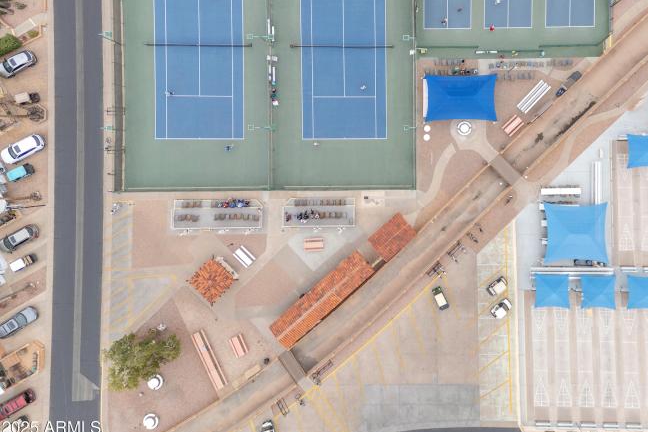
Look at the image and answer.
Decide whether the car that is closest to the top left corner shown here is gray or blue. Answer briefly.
gray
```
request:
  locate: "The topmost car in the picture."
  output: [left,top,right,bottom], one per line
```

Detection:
[0,47,34,77]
